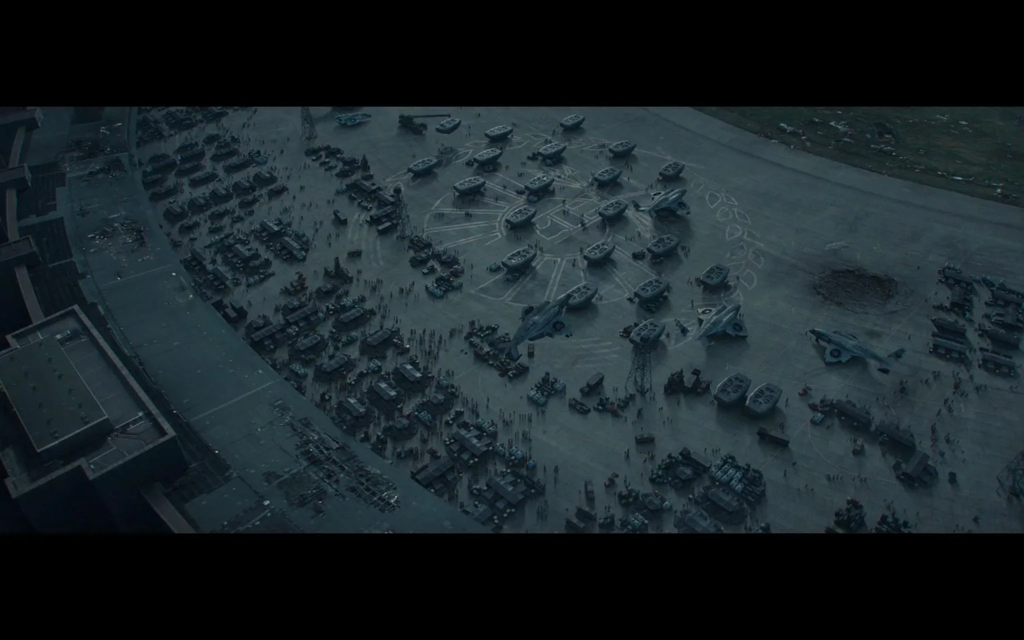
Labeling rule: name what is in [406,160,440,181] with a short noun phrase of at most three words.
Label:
ship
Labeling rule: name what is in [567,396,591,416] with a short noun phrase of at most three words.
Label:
vehicle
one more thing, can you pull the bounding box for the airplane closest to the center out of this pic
[496,310,579,374]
